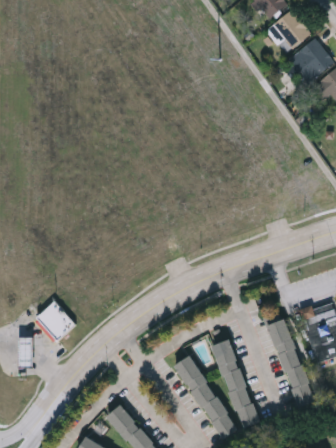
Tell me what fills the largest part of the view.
grass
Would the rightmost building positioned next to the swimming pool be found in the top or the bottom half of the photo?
bottom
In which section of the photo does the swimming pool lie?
bottom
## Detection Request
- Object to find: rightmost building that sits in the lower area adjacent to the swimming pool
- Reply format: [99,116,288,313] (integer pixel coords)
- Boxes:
[212,340,259,428]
